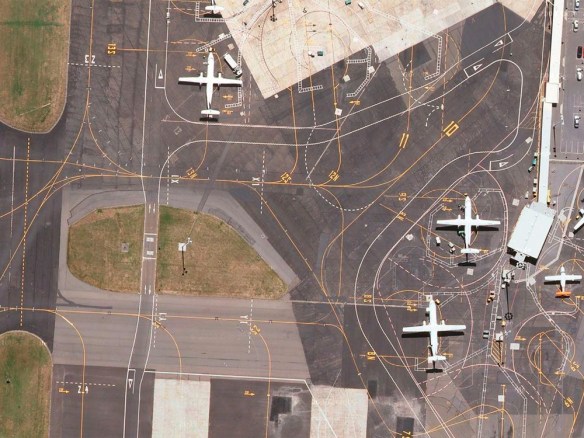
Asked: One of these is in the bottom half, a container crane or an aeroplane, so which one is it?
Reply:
aeroplane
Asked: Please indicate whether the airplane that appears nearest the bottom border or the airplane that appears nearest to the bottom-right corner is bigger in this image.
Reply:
the airplane that appears nearest the bottom border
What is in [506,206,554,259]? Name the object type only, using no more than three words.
building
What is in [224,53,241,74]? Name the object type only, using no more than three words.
vehicle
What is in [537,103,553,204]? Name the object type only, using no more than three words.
building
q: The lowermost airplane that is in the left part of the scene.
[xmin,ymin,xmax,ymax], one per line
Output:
[179,52,242,115]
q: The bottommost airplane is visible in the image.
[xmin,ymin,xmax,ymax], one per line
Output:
[402,301,466,363]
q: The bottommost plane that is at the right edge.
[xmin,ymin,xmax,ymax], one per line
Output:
[545,265,582,295]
